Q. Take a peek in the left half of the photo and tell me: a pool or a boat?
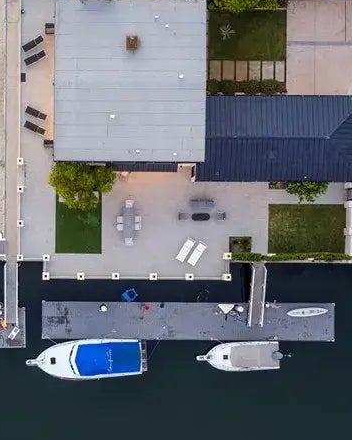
boat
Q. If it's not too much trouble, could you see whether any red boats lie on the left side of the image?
No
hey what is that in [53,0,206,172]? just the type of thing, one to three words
house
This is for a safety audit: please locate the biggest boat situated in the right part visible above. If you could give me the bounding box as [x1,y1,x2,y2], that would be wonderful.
[196,339,292,371]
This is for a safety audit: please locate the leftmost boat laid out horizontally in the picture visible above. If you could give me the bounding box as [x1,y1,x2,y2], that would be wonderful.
[25,335,160,381]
